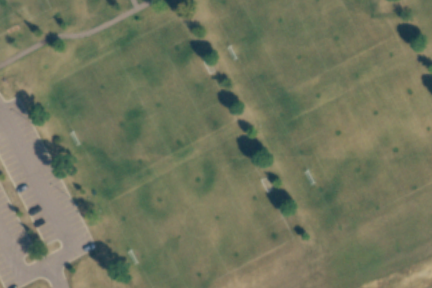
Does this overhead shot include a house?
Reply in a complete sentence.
No, there's no house here.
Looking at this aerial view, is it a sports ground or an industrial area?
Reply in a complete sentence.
This looks like a sports ground.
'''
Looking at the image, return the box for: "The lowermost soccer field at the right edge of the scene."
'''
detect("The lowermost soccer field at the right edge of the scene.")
[284,57,432,229]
